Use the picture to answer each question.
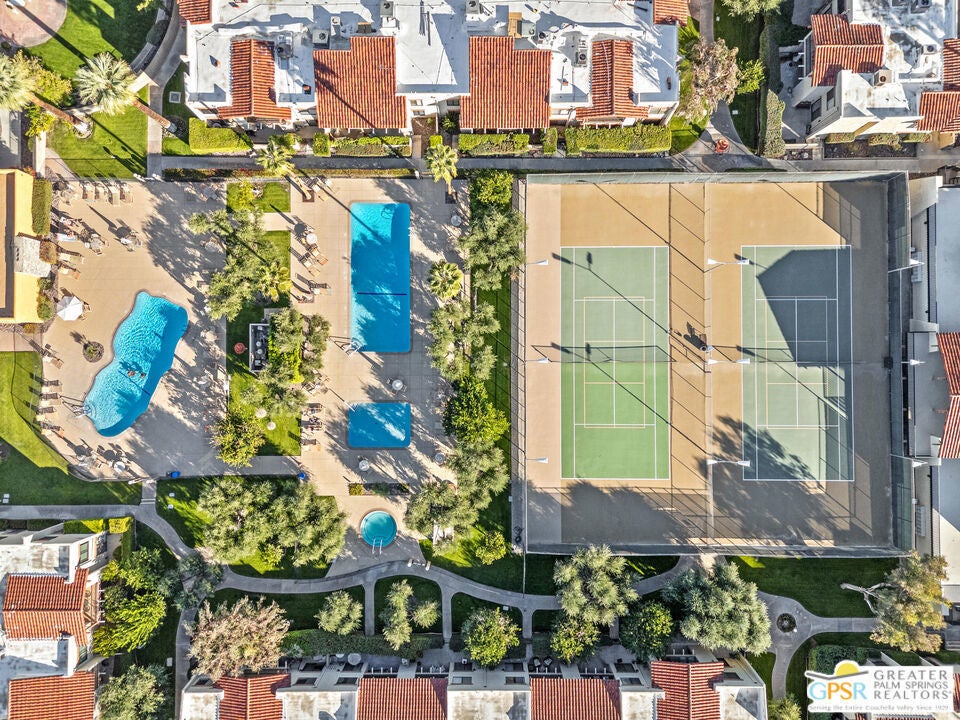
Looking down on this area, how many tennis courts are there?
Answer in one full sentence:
In total, there are 2 tennis courts in the scene.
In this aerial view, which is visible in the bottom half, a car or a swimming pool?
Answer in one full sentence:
It is a swimming pool that can be seen in the bottom half.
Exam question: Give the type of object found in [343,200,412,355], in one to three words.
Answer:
swimming pool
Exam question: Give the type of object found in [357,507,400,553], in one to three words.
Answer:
swimming pool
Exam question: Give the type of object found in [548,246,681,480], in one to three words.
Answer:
tennis court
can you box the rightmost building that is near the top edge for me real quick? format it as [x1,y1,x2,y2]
[785,0,960,158]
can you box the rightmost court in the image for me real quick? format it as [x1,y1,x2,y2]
[733,246,869,481]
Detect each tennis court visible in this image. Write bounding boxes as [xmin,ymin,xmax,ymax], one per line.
[548,246,681,480]
[733,246,869,481]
